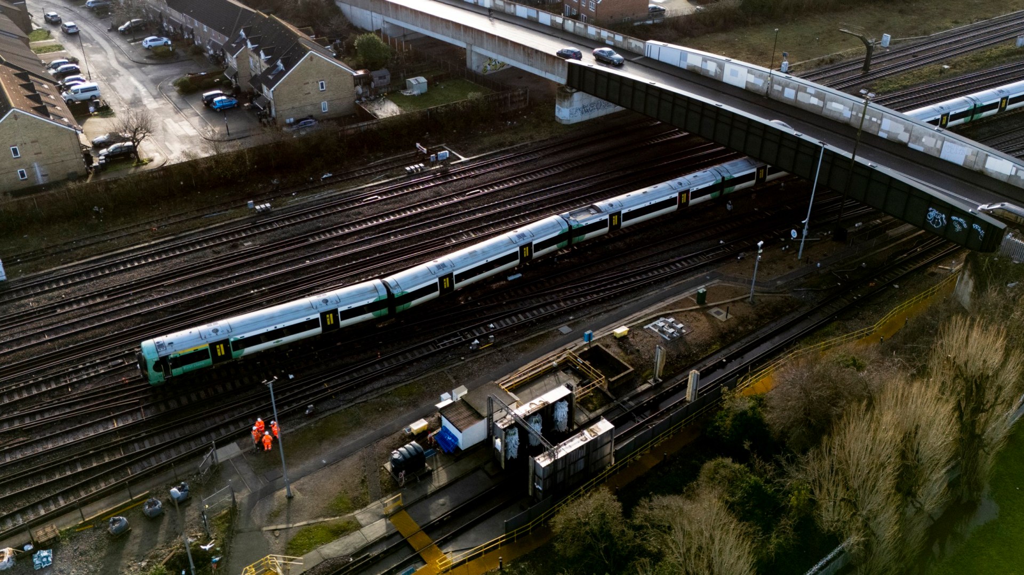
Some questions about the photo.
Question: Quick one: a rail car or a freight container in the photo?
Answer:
rail car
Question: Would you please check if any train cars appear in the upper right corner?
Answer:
Yes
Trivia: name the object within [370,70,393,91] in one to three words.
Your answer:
shed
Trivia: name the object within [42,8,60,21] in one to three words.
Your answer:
vehicle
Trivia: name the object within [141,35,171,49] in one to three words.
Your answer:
car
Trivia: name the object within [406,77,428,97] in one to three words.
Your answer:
shed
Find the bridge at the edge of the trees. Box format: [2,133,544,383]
[307,0,1024,302]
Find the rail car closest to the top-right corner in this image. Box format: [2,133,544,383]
[962,76,1024,122]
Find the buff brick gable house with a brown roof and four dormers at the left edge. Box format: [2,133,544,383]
[0,61,87,190]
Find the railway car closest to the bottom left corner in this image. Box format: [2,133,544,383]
[135,274,388,384]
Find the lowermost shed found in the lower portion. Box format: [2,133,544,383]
[439,398,485,447]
